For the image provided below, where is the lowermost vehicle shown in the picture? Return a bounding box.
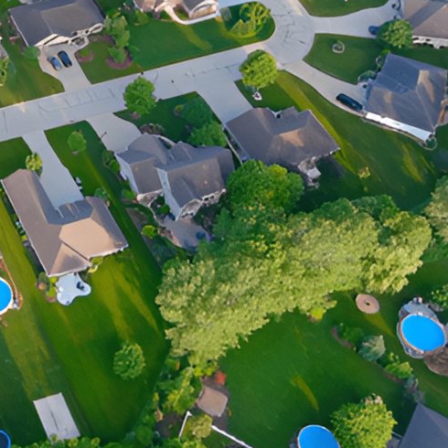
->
[339,88,365,107]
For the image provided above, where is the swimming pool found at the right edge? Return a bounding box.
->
[395,312,447,352]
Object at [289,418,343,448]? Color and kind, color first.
blue swimming pool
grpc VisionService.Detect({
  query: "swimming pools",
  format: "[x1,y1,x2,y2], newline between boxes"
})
[395,312,447,352]
[0,278,16,315]
[289,418,343,448]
